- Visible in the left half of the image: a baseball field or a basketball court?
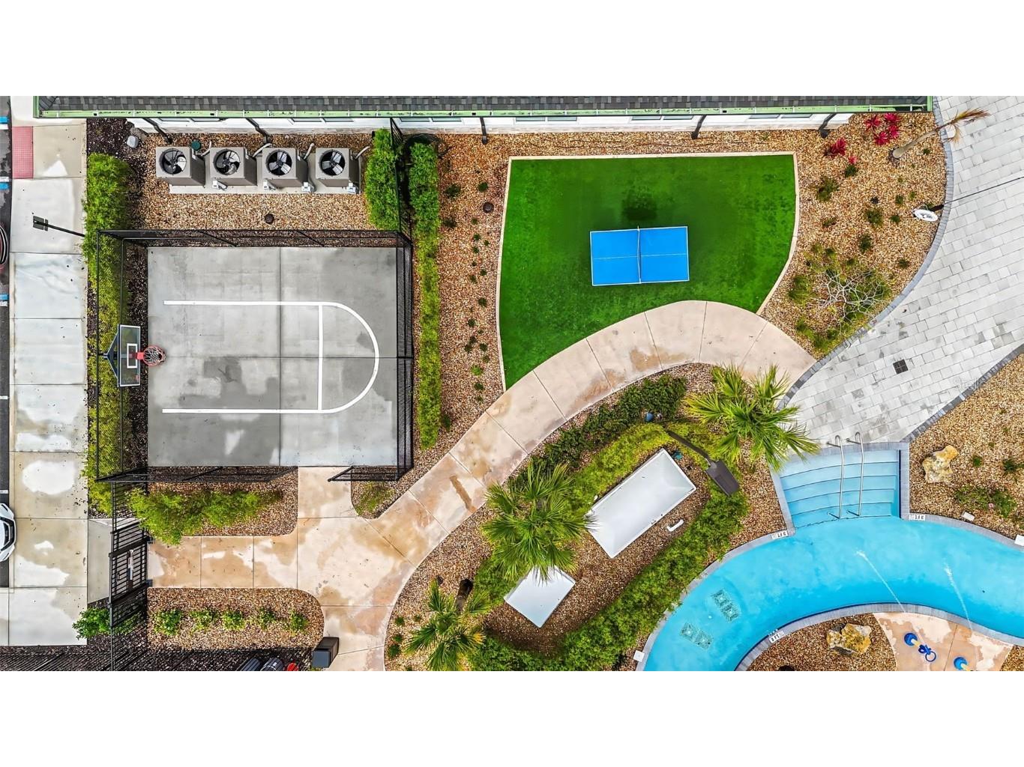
basketball court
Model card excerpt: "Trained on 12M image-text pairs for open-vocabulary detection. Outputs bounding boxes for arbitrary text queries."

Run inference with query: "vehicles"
[0,224,9,274]
[0,498,19,564]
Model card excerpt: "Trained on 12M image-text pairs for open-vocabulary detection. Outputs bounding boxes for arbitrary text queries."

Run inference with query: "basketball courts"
[147,247,410,466]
